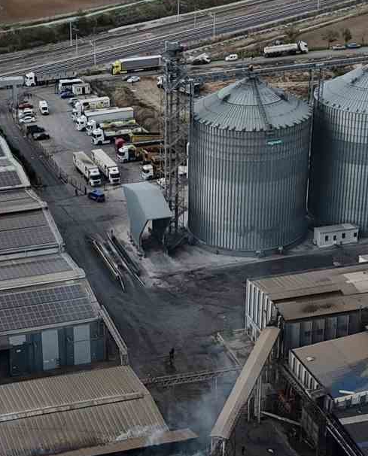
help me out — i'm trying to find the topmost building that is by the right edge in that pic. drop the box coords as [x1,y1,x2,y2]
[314,220,362,247]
